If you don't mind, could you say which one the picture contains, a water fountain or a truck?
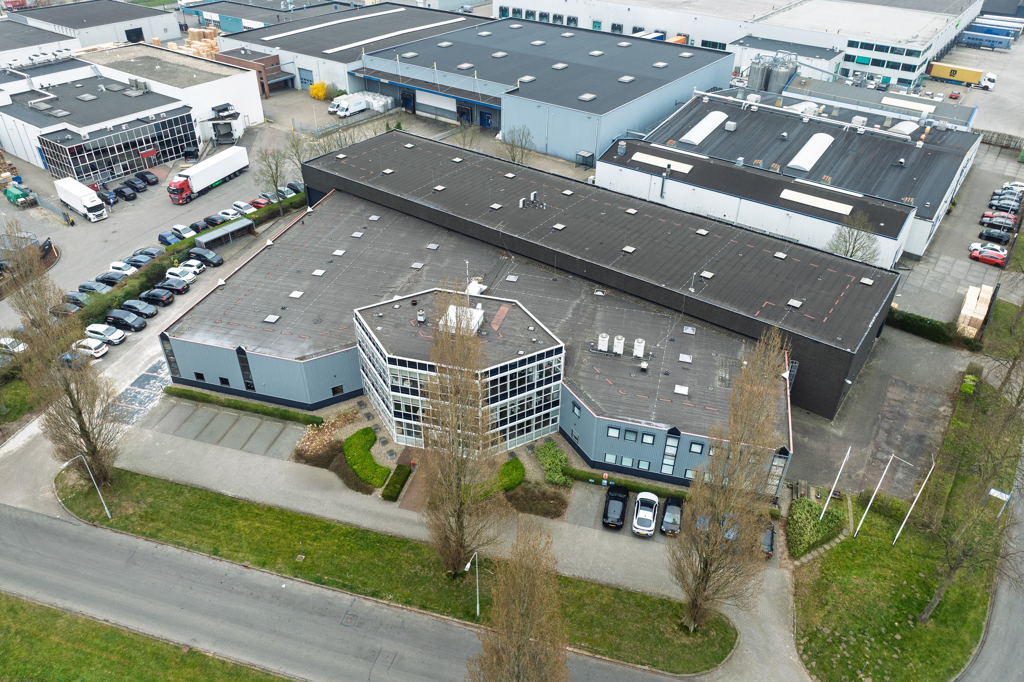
truck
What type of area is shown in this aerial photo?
industrial area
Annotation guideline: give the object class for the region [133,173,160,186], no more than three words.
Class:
vehicle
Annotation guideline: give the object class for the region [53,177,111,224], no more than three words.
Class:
truck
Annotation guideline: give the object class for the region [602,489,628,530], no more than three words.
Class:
car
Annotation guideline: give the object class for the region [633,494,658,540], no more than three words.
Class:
car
